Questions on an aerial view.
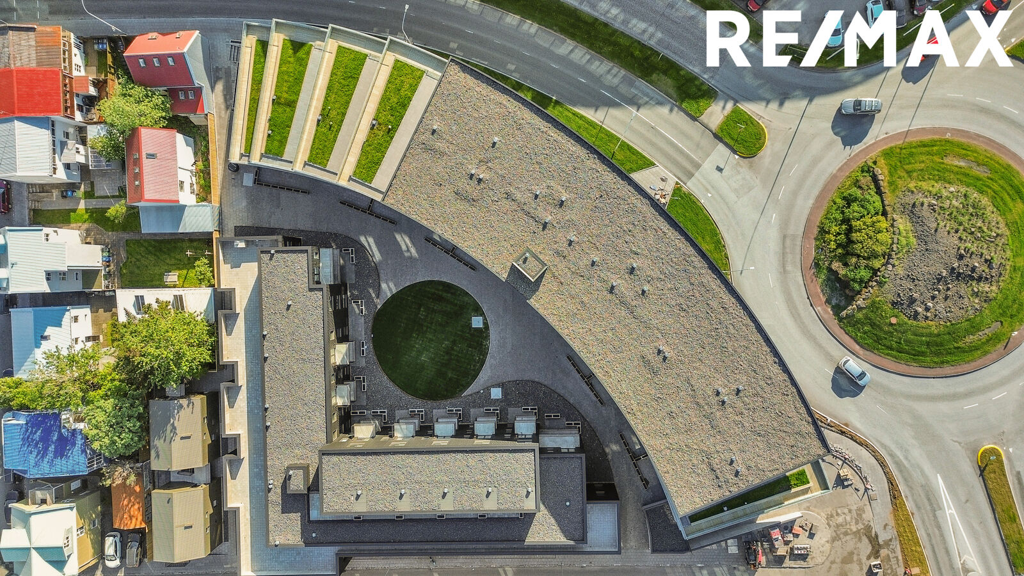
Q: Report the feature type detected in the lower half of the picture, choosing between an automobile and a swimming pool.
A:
automobile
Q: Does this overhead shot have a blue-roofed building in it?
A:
Yes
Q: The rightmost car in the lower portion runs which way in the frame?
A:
at an angle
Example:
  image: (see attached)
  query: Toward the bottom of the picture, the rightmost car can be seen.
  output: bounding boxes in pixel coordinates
[837,356,868,387]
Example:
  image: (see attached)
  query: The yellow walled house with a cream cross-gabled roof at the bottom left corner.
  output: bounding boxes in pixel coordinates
[0,488,102,576]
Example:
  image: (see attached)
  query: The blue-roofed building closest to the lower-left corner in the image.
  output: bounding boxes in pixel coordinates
[2,413,114,480]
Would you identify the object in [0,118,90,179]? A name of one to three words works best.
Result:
house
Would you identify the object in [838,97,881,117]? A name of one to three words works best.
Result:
car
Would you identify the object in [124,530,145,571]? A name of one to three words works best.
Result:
truck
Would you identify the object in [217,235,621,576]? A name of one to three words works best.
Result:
building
